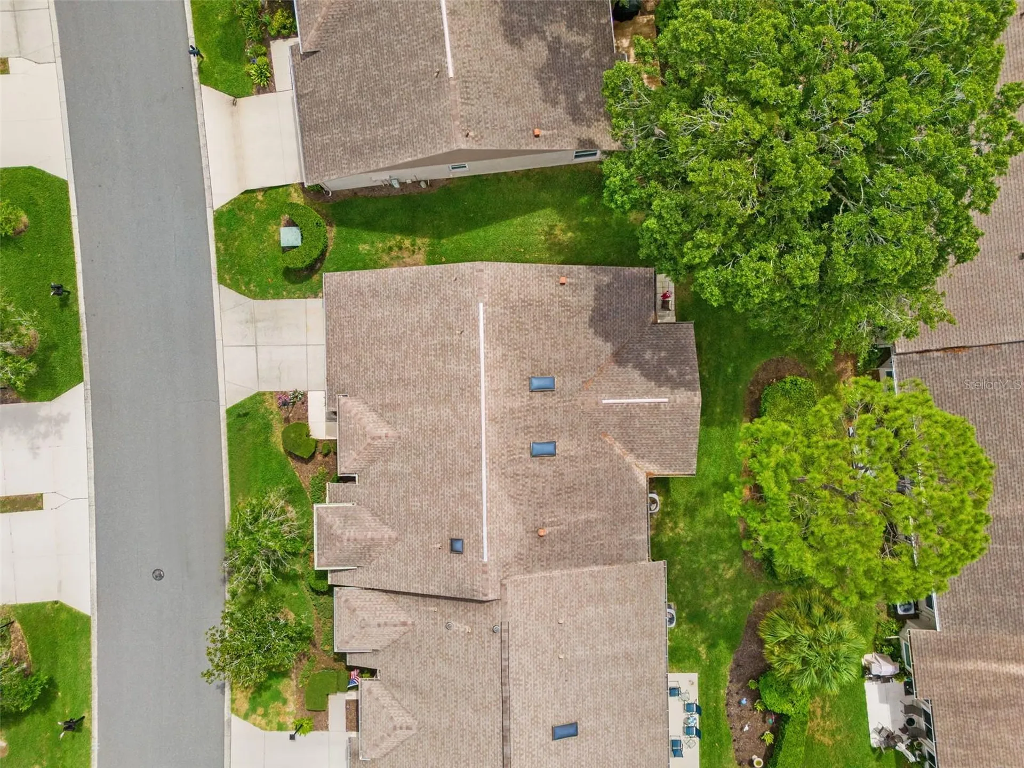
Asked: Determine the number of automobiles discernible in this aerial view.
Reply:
zero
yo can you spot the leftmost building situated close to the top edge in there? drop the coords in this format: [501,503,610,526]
[288,0,628,197]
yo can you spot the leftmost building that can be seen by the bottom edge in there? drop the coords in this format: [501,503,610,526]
[329,560,670,768]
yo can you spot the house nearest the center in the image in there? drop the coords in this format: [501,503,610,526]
[312,261,701,601]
